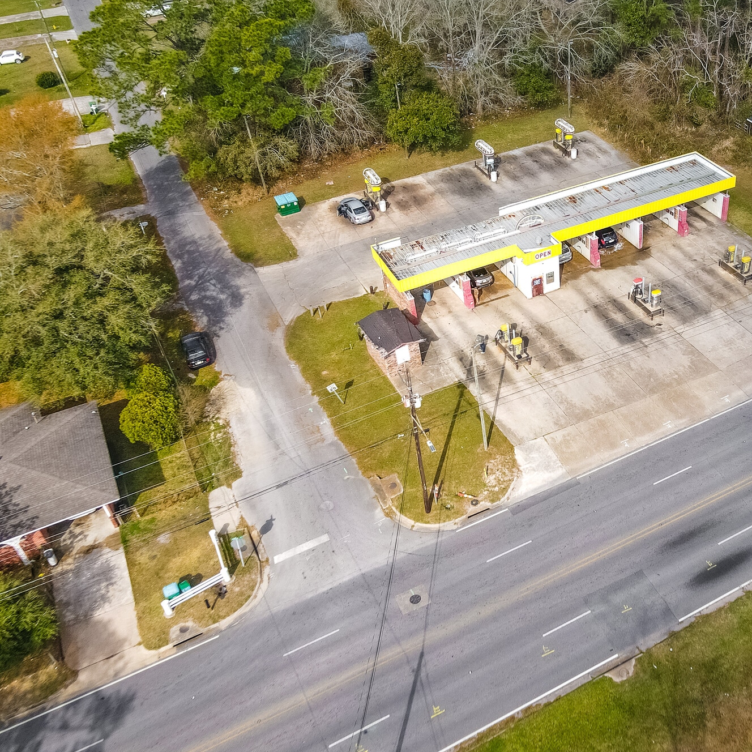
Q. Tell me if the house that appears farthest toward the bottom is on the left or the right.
left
